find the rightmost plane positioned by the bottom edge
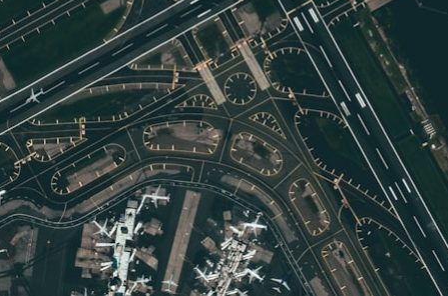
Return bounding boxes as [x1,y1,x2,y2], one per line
[274,272,293,293]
